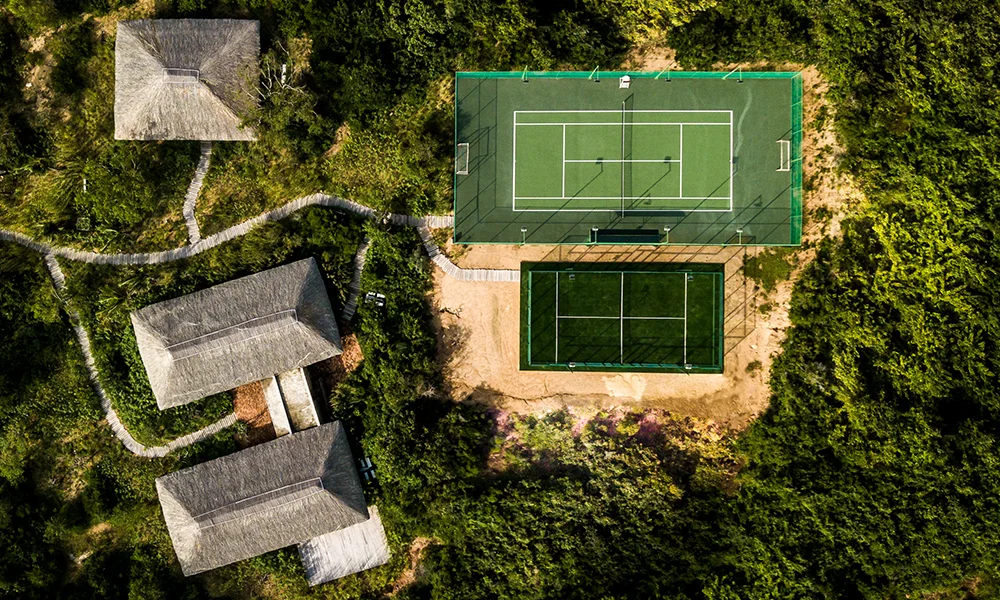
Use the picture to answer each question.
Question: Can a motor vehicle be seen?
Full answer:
No, no motor vehicle can be seen from above.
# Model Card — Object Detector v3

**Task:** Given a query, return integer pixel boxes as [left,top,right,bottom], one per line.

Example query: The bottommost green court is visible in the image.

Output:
[520,262,723,373]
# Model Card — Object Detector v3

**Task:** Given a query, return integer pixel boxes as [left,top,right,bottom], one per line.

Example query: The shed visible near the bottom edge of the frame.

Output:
[155,421,368,576]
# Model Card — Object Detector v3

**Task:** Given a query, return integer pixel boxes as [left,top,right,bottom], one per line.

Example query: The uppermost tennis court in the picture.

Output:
[456,78,792,243]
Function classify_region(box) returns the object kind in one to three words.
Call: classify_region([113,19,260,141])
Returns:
shed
